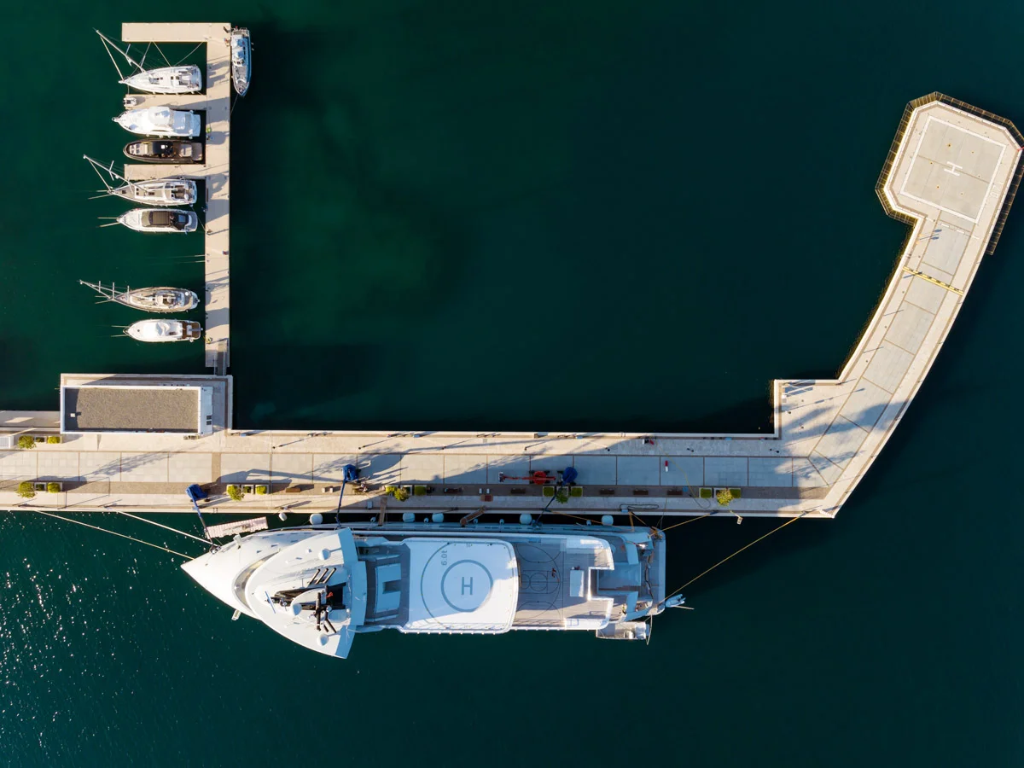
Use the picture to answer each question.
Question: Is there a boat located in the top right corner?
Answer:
No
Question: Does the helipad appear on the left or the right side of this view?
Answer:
right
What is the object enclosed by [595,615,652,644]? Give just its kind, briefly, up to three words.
boat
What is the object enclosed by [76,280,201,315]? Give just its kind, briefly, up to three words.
boat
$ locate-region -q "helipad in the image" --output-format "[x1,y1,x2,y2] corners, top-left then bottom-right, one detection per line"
[875,91,1024,255]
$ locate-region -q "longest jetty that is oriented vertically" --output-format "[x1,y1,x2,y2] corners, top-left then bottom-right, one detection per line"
[122,23,232,367]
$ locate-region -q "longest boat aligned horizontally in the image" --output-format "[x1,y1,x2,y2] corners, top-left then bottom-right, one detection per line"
[181,521,665,658]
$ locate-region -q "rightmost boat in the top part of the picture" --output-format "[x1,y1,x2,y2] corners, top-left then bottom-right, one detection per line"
[231,26,256,97]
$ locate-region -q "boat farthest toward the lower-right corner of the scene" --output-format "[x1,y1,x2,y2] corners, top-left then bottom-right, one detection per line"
[666,593,685,606]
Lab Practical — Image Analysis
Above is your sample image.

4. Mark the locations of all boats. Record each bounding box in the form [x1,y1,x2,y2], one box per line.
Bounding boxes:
[76,280,201,315]
[93,29,205,95]
[81,155,199,208]
[595,615,652,644]
[114,318,204,344]
[104,208,201,235]
[181,521,665,658]
[110,107,201,140]
[231,26,256,97]
[666,593,685,606]
[122,139,205,163]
